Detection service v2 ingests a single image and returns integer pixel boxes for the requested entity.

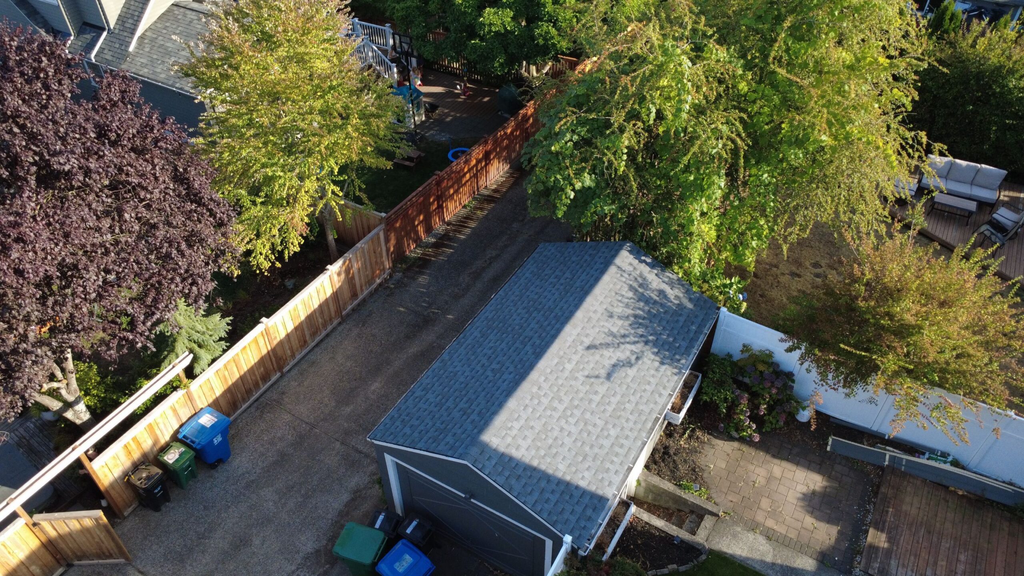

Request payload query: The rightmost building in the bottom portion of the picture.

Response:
[365,240,720,576]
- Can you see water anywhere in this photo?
No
